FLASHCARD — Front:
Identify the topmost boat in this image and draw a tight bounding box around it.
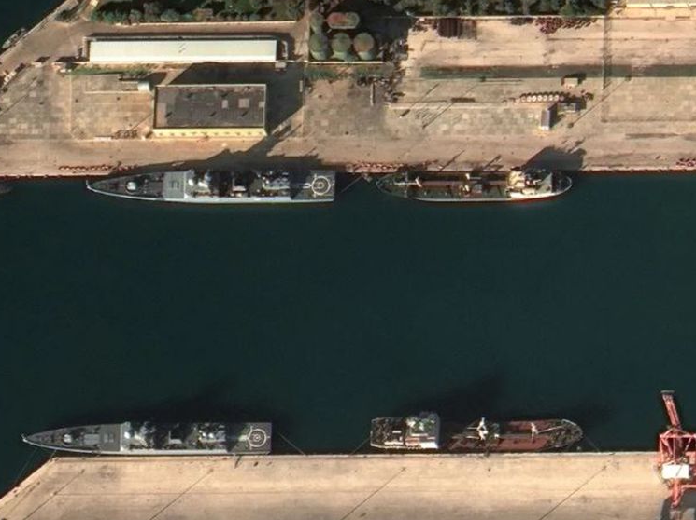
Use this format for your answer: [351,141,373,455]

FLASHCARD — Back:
[3,27,27,49]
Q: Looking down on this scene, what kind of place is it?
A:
port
